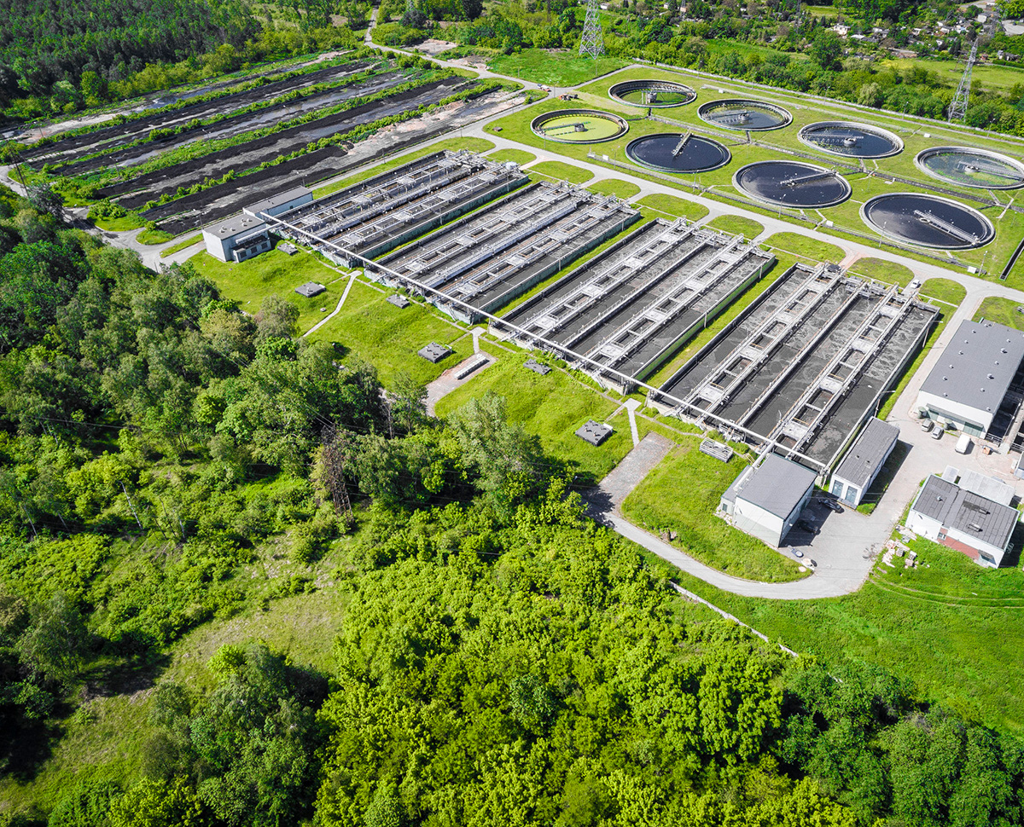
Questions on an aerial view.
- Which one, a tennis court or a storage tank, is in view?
storage tank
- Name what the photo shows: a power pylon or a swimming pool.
power pylon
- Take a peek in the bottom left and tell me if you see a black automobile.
No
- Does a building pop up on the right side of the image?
Yes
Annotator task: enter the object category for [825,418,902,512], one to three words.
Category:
building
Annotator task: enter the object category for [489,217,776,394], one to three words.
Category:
storage tank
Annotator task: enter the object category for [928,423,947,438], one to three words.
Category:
car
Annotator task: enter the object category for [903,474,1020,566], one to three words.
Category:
building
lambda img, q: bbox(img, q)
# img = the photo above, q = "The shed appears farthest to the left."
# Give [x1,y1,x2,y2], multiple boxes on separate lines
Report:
[201,214,269,260]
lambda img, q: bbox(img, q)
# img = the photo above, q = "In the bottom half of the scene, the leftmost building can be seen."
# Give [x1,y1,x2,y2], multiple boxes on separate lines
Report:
[718,453,820,546]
